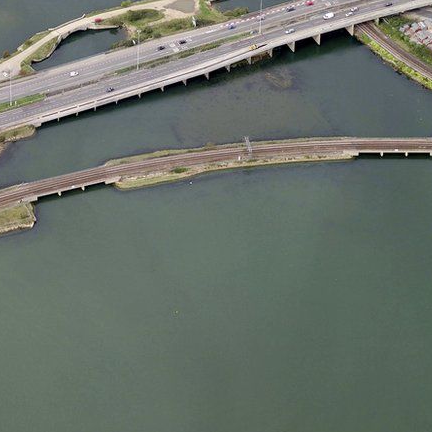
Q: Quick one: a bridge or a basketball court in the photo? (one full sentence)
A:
I can see a bridge in this picture.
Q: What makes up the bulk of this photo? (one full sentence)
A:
The bulk of the photo consists of water.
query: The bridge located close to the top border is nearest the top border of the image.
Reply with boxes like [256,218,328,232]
[23,0,432,117]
